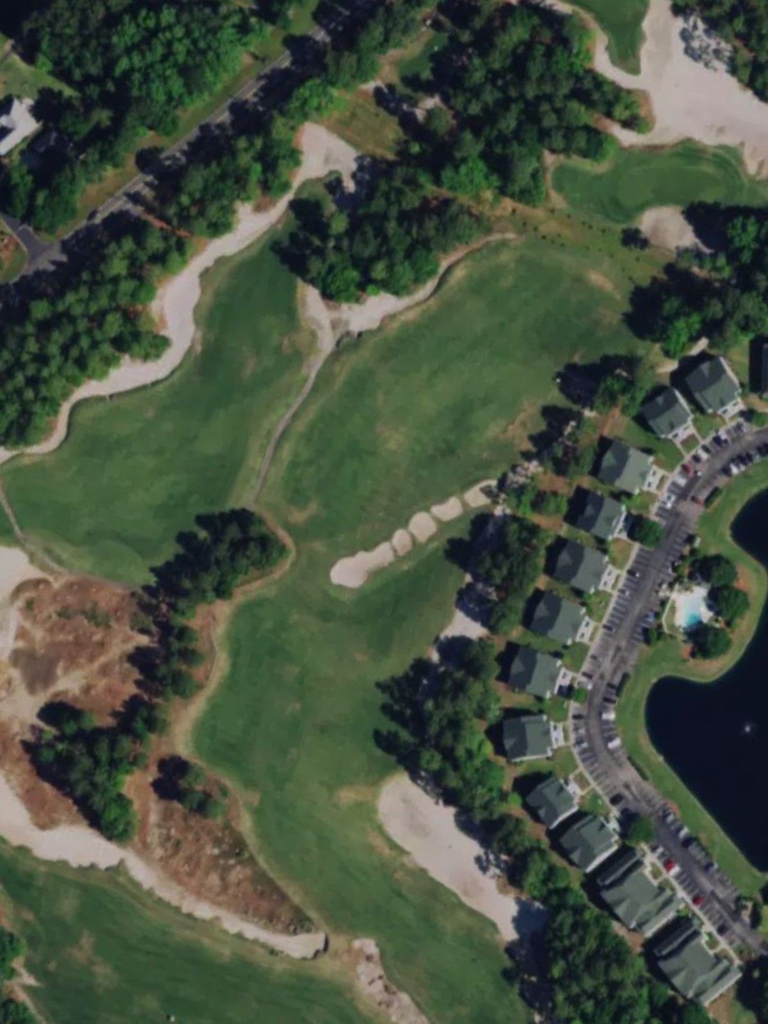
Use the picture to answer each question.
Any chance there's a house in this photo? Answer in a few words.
Yes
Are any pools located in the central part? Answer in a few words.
No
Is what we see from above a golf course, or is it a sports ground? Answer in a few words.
golf course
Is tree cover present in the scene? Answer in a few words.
Yes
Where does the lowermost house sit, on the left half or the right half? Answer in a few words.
right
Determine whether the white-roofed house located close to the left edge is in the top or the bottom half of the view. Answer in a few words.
top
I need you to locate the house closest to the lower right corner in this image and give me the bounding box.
[661,922,742,1006]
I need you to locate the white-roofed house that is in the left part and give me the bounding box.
[0,98,40,158]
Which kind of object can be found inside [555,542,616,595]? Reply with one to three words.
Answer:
house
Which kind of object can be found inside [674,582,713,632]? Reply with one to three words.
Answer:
swimming pool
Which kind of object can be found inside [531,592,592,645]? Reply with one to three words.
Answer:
house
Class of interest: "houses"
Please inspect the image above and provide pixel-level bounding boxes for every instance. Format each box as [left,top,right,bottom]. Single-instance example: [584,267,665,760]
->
[602,853,683,937]
[555,542,616,595]
[563,815,623,872]
[0,98,40,158]
[661,922,742,1006]
[598,440,660,497]
[527,775,583,828]
[686,358,744,416]
[504,715,561,762]
[531,592,592,645]
[576,491,633,542]
[643,389,698,442]
[509,647,571,699]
